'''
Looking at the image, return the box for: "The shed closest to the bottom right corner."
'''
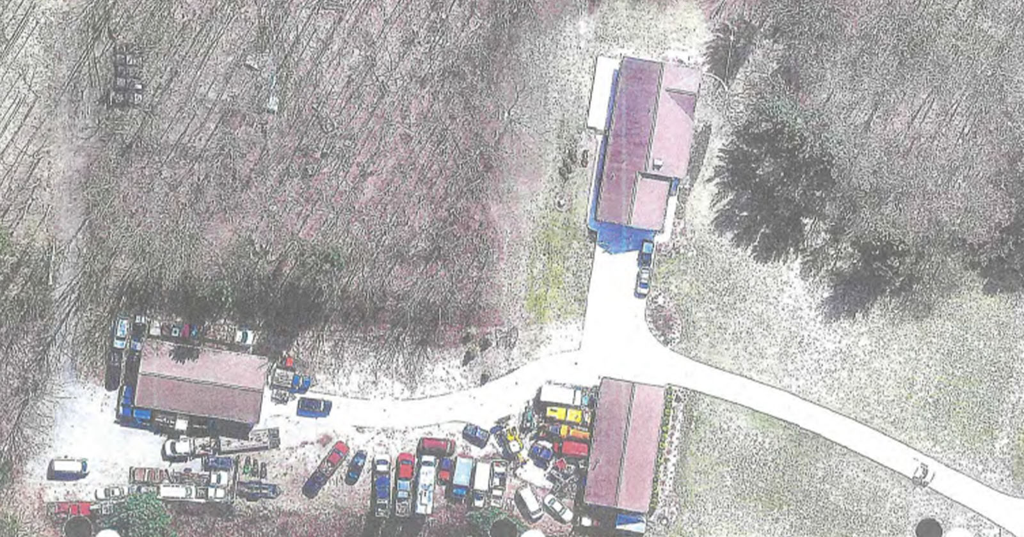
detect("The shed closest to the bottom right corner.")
[583,376,667,515]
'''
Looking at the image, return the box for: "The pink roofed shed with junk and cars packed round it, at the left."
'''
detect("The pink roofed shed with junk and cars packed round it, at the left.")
[132,333,269,424]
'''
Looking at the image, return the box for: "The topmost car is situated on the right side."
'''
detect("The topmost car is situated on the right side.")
[638,240,653,267]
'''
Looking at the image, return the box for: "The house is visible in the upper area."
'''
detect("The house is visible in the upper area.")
[595,57,702,235]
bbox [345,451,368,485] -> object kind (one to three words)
car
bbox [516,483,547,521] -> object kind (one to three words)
van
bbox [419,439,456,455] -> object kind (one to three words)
vehicle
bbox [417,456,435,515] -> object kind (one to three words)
camper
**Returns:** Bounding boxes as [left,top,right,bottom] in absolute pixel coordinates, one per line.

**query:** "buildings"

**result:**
[583,376,667,515]
[132,333,269,424]
[595,57,702,235]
